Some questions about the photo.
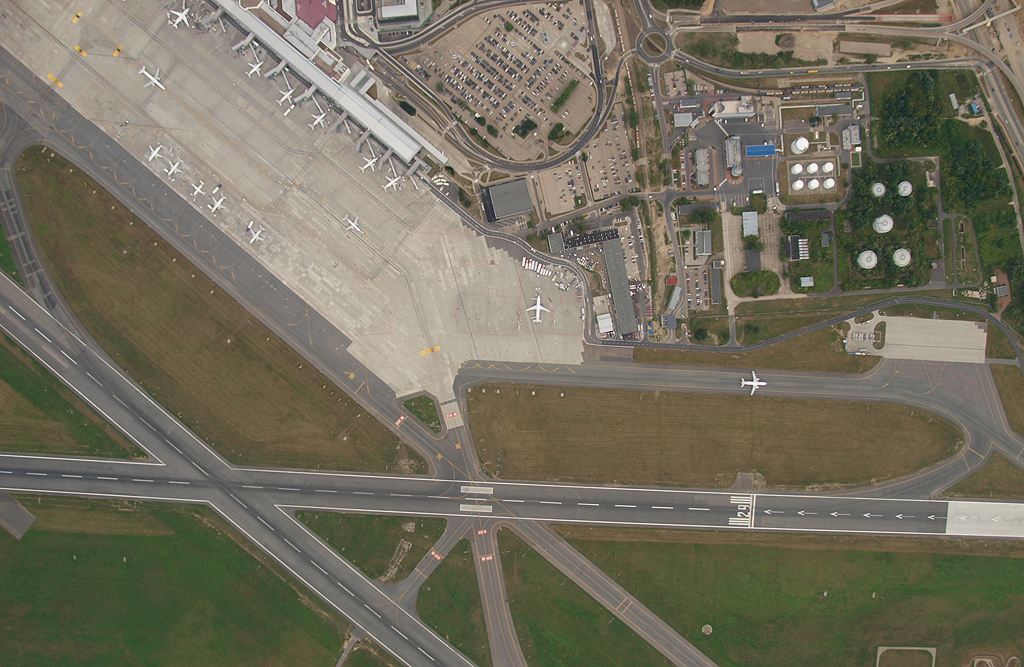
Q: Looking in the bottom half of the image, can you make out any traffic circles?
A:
No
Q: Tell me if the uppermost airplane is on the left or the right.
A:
left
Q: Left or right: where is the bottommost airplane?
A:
right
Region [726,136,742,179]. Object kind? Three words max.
building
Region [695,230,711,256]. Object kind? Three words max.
building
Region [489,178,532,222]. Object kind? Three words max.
hangar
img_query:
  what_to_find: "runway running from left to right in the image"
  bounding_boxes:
[0,455,1024,537]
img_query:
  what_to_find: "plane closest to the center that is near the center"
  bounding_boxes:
[526,295,550,323]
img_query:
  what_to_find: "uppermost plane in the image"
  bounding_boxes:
[170,9,190,30]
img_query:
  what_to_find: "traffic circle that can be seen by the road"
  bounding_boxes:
[634,25,675,65]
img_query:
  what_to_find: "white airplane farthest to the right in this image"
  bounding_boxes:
[741,371,767,396]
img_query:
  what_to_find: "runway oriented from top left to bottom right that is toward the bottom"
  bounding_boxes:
[0,270,476,667]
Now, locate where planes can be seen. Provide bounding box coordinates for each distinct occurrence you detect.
[359,156,381,173]
[275,88,295,106]
[741,371,767,396]
[308,113,326,130]
[189,180,205,196]
[149,143,164,161]
[526,295,550,323]
[168,157,184,176]
[381,177,401,192]
[211,194,227,213]
[170,9,190,30]
[342,215,365,234]
[250,225,266,244]
[138,65,165,90]
[245,62,263,78]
